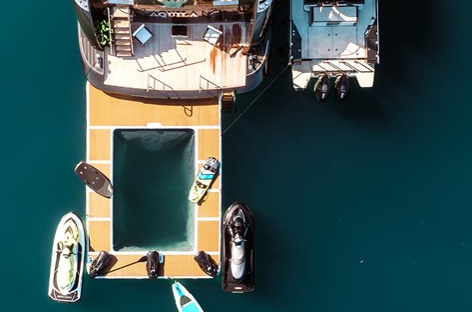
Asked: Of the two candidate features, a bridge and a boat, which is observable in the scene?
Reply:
boat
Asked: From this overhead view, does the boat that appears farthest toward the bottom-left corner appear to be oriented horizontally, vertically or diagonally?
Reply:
vertically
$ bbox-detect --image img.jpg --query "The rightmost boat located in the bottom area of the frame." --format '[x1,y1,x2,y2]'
[221,200,255,293]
